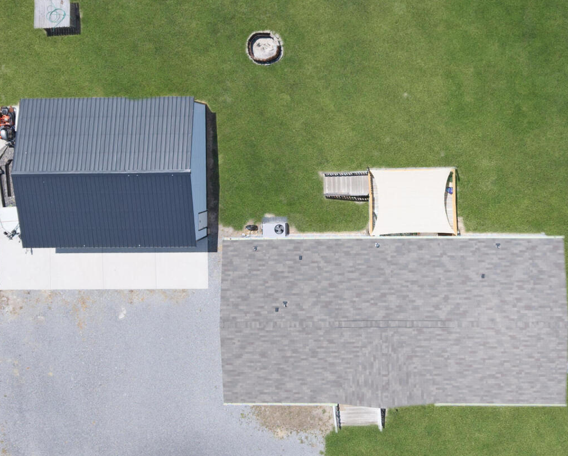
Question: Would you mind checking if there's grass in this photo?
Yes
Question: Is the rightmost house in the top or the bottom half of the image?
bottom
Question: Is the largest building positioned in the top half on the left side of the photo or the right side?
left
